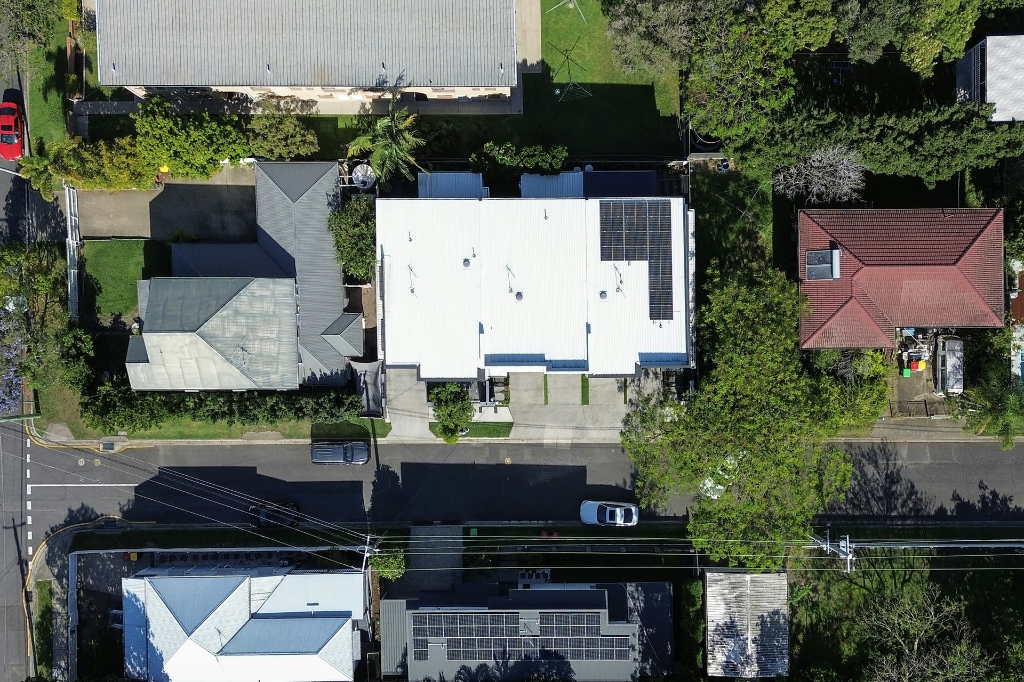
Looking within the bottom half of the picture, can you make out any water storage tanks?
No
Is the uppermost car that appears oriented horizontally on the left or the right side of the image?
left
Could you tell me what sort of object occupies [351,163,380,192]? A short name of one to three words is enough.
water tank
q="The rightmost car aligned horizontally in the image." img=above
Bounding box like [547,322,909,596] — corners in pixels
[578,499,636,527]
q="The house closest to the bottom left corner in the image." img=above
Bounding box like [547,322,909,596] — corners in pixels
[109,565,372,682]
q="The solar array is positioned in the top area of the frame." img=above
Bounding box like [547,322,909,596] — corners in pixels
[600,202,674,320]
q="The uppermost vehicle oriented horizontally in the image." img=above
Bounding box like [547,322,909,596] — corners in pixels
[309,439,370,468]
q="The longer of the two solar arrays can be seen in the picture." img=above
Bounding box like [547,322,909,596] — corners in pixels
[412,615,630,660]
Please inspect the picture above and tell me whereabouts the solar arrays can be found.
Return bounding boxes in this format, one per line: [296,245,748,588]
[600,202,674,320]
[412,615,630,660]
